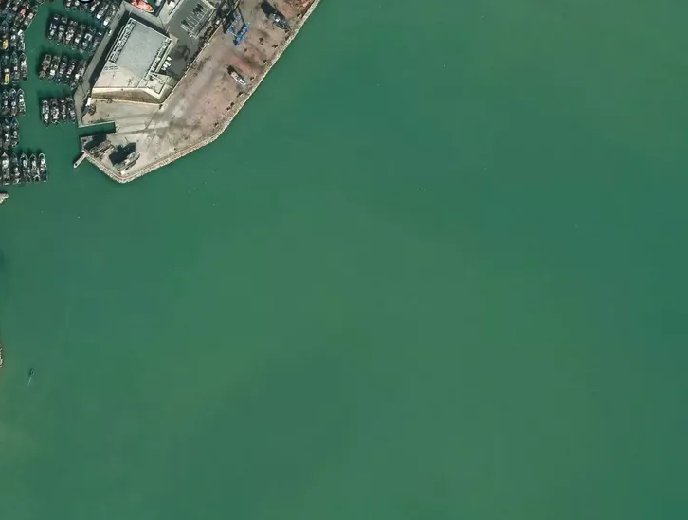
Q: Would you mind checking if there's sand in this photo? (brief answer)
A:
No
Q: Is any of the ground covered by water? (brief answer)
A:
Yes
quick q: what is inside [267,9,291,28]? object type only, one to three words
boat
